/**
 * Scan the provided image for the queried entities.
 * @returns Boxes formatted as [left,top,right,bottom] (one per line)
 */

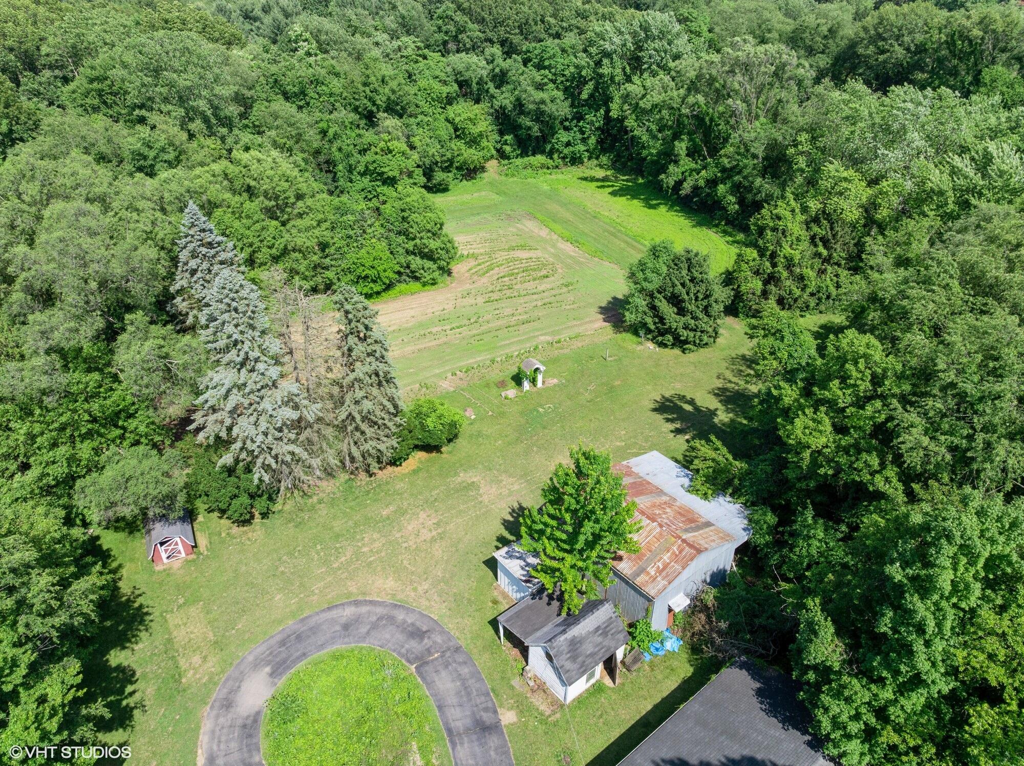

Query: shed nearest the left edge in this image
[144,503,195,566]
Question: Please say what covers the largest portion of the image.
trees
